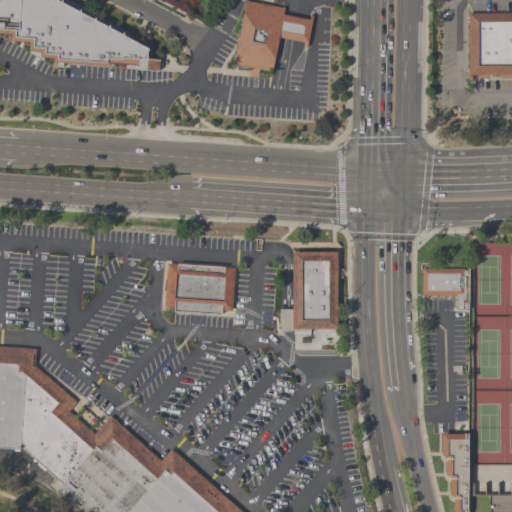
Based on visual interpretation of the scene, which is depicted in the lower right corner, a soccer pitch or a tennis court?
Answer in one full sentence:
The feature located in the lower right corner is a tennis court.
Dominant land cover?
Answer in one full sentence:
The largest share of the image is taken up by paved ground.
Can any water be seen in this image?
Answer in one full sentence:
No, water can't be seen anywhere here.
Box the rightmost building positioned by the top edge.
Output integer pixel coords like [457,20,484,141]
[470,12,512,80]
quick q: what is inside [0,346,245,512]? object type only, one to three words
building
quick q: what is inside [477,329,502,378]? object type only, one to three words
tennis court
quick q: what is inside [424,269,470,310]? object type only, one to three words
building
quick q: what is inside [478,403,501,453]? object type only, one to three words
tennis court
